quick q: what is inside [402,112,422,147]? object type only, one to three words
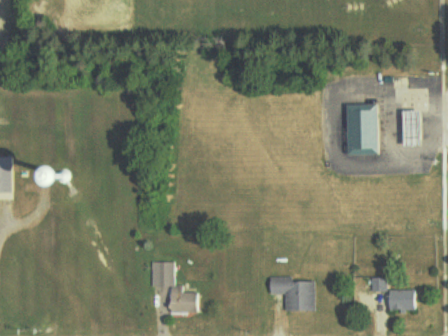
shed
